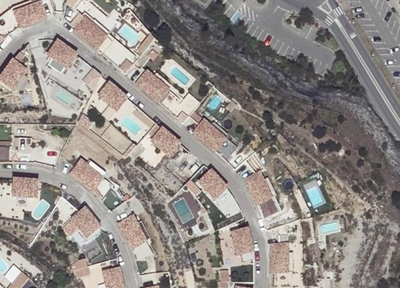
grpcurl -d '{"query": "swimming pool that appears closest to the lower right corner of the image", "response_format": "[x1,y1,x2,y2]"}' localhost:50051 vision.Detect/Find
[320,222,340,234]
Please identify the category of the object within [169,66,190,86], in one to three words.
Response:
swimming pool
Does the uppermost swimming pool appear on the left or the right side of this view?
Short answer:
left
